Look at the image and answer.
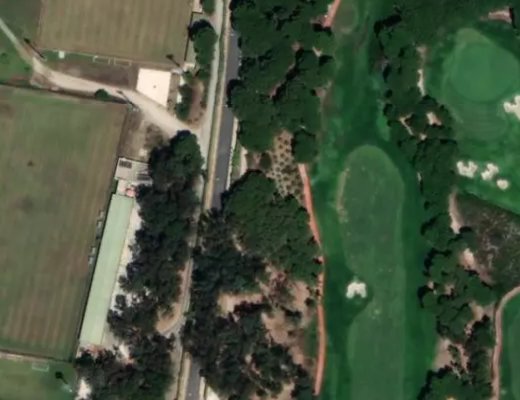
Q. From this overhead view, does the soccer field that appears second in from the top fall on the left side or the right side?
left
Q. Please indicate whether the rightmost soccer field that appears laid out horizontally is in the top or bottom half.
top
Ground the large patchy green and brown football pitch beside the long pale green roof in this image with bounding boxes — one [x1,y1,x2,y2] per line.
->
[0,86,126,359]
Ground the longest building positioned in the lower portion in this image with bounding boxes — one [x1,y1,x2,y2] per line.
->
[79,196,134,347]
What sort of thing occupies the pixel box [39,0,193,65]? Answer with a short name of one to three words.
soccer field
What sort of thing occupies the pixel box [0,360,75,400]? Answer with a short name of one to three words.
soccer field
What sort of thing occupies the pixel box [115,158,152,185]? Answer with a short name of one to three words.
building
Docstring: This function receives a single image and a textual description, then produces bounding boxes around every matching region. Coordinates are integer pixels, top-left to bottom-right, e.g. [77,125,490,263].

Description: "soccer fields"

[0,86,126,359]
[39,0,193,65]
[0,360,75,400]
